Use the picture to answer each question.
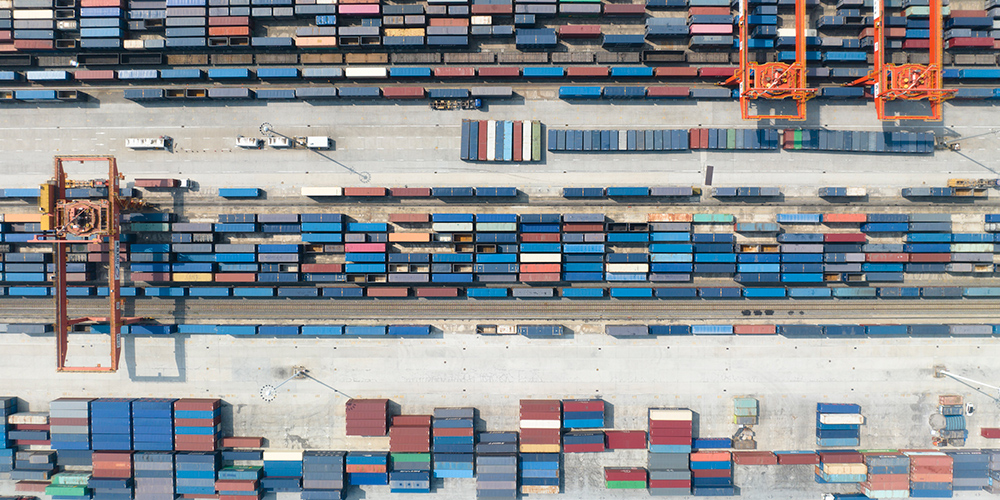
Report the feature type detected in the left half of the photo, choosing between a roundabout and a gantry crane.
gantry crane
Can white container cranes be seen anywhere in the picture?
No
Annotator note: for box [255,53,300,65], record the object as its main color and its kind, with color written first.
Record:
gray rail car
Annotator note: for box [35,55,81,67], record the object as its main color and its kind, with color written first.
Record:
gray rail car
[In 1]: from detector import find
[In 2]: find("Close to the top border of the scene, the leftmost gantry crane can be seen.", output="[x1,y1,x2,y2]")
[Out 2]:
[709,0,828,123]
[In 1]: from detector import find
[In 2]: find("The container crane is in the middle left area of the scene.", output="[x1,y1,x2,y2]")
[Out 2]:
[21,153,163,373]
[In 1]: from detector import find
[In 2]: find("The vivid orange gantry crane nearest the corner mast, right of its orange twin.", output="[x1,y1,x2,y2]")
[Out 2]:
[834,0,968,123]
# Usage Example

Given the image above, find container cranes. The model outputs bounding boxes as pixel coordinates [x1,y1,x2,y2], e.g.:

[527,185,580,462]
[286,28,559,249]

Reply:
[21,153,163,373]
[834,0,968,123]
[709,0,828,123]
